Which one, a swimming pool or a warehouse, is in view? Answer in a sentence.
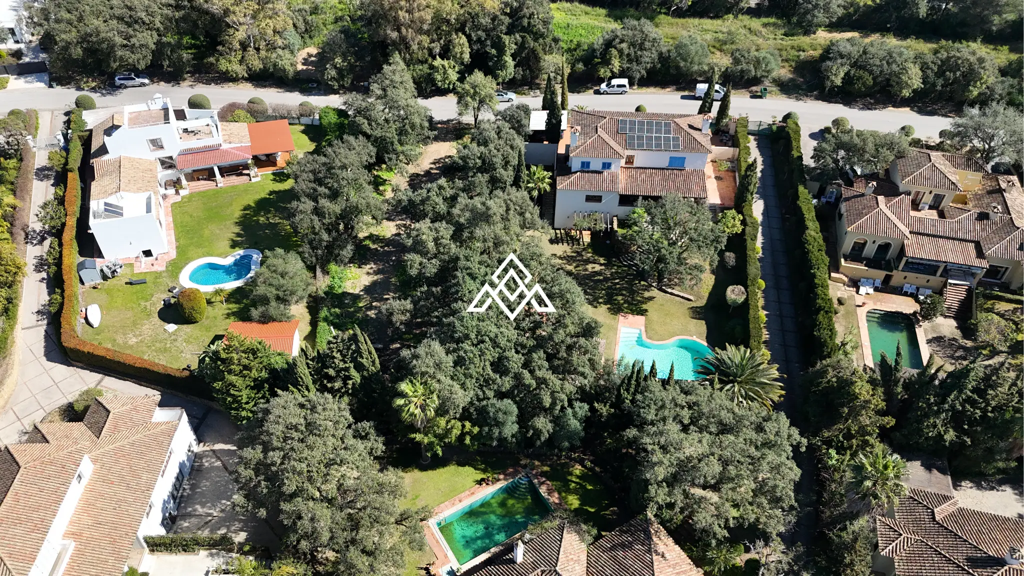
It is a swimming pool that can be seen here.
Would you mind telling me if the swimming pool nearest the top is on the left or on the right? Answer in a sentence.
The swimming pool nearest the top is on the left side of the image.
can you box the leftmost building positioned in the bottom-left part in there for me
[0,394,201,576]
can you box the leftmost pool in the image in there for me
[179,247,264,291]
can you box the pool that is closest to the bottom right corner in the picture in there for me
[861,304,928,375]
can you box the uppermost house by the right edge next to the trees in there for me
[832,147,1024,319]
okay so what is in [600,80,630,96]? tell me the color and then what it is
white vehicle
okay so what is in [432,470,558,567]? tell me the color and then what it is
green swimming pool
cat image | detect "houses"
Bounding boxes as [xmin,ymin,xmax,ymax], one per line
[87,87,258,258]
[865,486,1024,576]
[0,0,43,50]
[554,108,718,232]
[832,147,1024,319]
[0,394,201,576]
[471,509,705,576]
